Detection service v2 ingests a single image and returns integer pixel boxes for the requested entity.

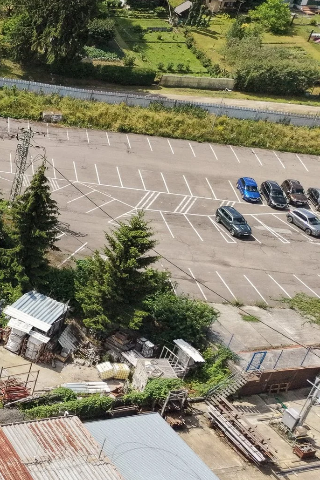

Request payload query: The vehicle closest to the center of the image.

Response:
[220,201,256,233]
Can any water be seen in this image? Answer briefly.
No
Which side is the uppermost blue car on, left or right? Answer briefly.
right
